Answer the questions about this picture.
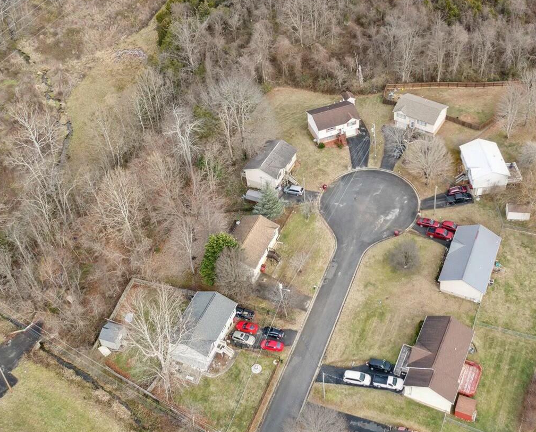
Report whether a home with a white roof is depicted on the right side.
Yes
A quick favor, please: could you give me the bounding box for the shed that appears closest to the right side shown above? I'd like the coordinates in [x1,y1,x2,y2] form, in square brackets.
[507,203,532,219]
